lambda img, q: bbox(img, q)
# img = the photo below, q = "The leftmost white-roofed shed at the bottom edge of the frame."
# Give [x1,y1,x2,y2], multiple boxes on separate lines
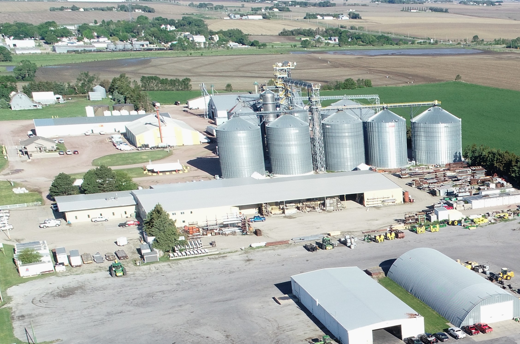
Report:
[291,265,425,344]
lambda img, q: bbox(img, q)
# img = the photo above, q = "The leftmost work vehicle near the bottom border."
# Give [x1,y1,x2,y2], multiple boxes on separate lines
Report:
[310,332,334,344]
